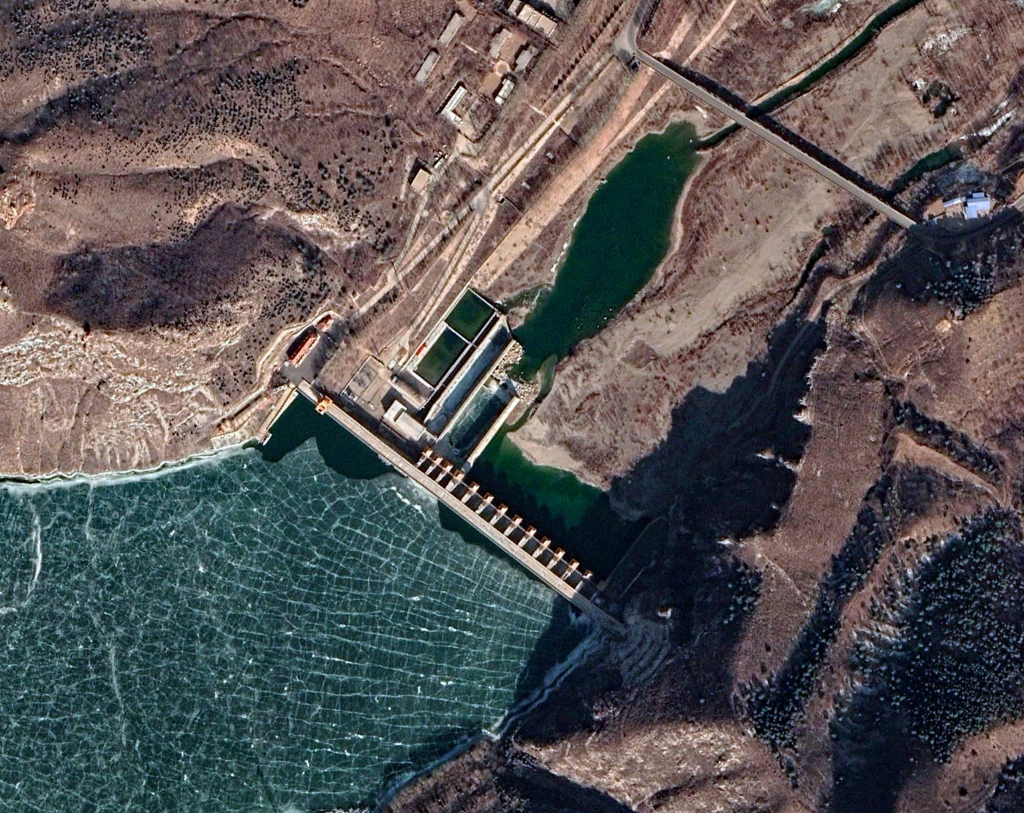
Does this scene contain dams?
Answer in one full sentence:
Yes, there's a dam down there.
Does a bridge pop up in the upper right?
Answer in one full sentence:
Yes, looking in the upper right, one can make out a bridge.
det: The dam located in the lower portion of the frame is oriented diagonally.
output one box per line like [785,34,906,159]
[297,380,627,635]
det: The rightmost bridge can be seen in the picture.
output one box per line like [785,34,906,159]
[633,48,915,230]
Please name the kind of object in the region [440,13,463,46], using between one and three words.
building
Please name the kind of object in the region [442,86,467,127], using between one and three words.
building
